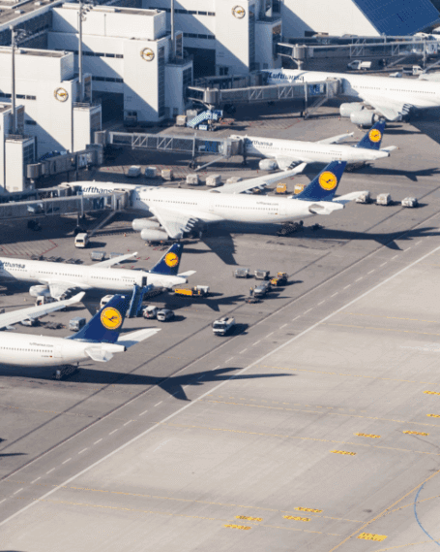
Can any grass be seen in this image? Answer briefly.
No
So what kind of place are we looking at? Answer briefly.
airport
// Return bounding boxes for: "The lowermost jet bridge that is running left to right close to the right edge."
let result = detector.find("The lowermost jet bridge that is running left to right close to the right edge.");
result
[270,35,437,69]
